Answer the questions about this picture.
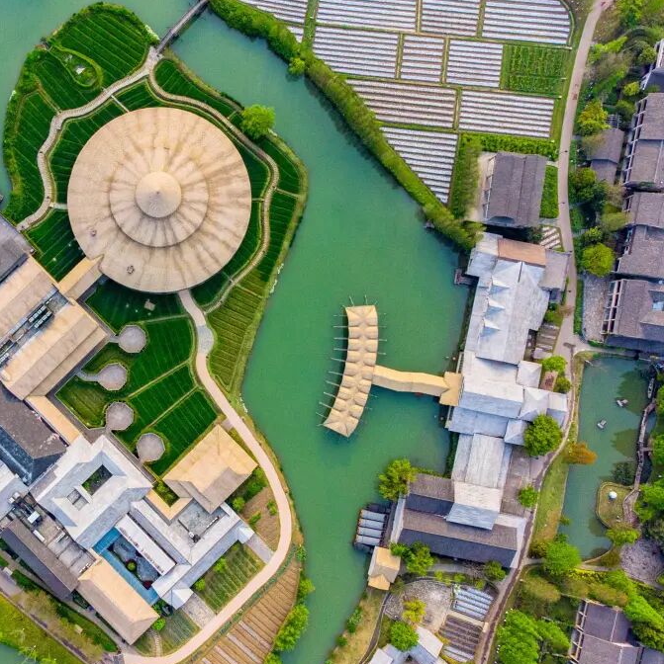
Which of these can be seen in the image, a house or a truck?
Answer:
house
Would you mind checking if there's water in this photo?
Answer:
Yes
